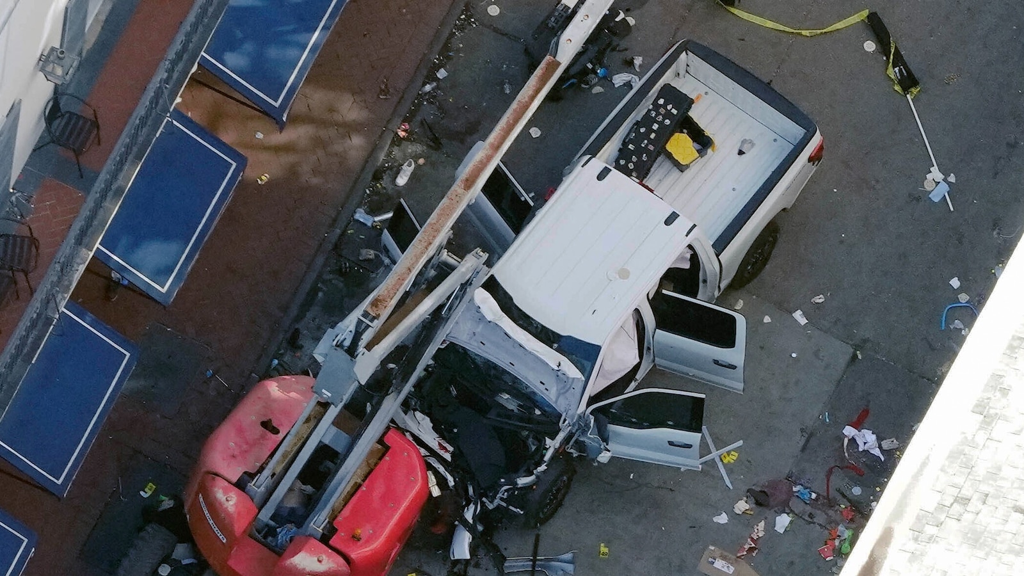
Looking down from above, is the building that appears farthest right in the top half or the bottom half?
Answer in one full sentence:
The building that appears farthest right sits in the bottom half of the picture.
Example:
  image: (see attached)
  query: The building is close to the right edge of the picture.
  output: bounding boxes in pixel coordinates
[856,215,1024,576]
